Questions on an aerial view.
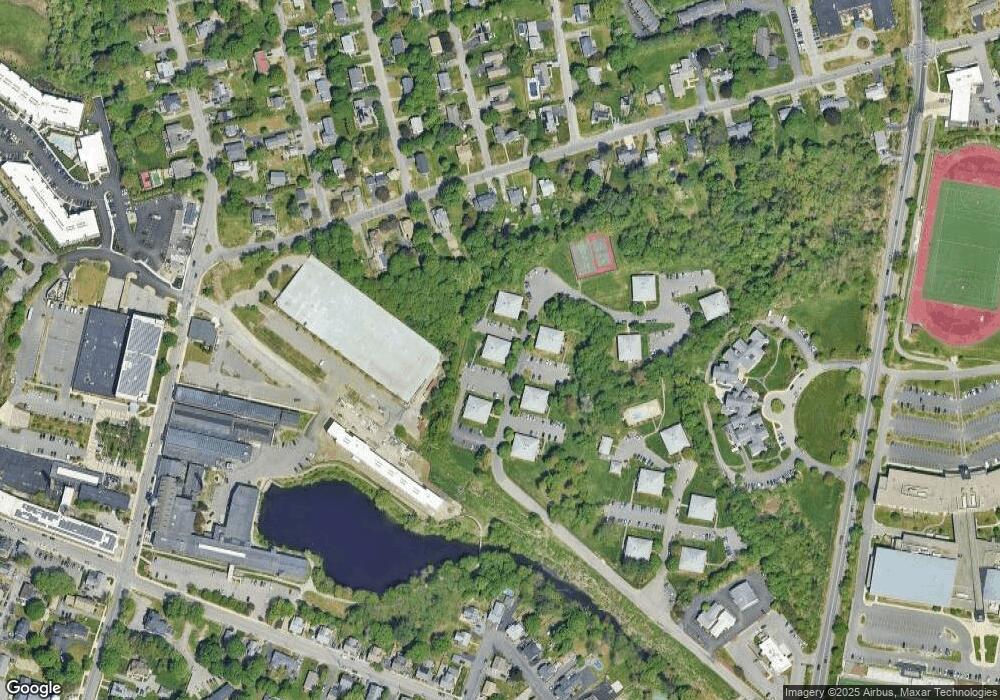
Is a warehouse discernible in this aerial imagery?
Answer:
Yes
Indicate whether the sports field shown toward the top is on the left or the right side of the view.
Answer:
right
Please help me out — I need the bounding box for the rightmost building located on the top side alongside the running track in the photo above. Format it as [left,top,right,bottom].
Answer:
[946,66,982,123]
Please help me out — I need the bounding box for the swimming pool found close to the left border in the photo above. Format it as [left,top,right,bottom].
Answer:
[49,131,78,158]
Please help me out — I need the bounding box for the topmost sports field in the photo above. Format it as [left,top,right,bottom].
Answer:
[923,181,1000,310]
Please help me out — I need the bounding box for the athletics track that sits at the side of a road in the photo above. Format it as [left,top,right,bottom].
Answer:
[913,144,1000,346]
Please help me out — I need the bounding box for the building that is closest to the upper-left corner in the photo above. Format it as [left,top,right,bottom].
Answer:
[0,62,86,134]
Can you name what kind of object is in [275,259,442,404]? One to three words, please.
warehouse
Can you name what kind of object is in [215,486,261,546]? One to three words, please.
building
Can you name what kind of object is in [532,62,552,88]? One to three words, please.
house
